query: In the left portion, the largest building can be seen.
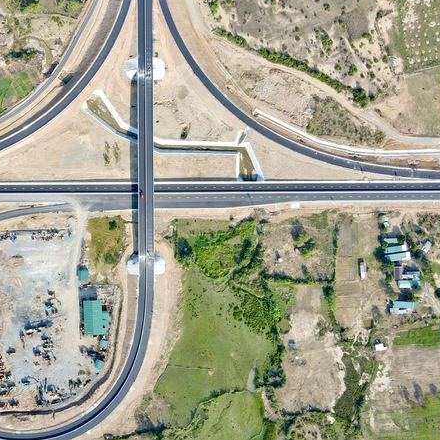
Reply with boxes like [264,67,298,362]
[83,299,102,336]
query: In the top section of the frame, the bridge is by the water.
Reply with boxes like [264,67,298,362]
[137,0,153,259]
